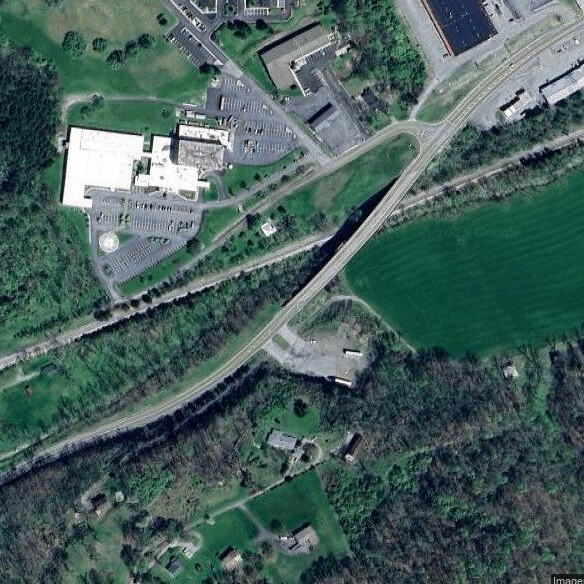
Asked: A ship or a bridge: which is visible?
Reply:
bridge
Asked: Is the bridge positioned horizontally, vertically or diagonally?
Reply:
diagonally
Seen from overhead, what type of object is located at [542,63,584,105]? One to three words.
shed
